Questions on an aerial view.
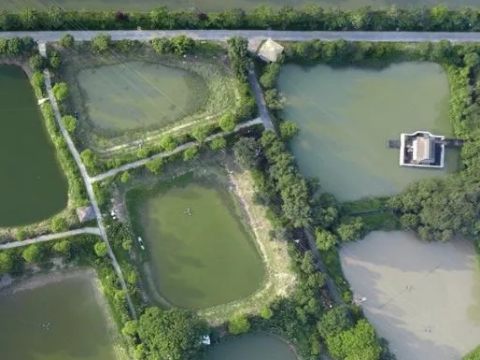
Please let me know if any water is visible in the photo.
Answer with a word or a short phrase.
Yes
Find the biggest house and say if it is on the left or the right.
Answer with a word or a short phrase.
right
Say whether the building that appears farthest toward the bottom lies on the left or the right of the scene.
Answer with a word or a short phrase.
left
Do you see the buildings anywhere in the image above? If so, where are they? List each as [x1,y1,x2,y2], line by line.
[253,39,284,65]
[75,203,96,223]
[391,131,445,168]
